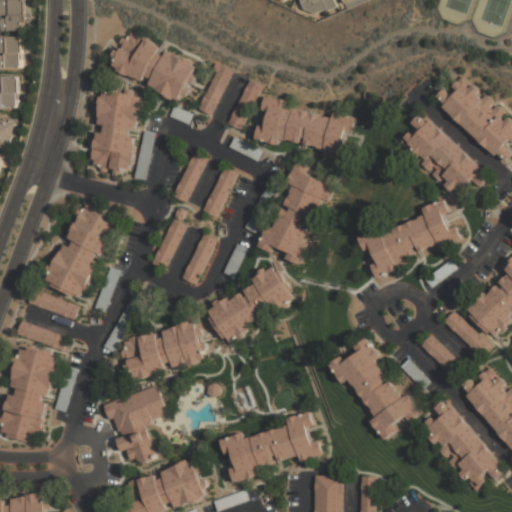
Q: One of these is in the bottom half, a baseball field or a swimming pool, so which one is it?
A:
swimming pool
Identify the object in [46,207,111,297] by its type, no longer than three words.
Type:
building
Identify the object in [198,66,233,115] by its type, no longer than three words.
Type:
building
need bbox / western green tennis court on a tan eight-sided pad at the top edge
[438,0,476,24]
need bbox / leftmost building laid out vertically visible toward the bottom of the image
[0,343,60,444]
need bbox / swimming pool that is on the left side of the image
[156,382,226,433]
